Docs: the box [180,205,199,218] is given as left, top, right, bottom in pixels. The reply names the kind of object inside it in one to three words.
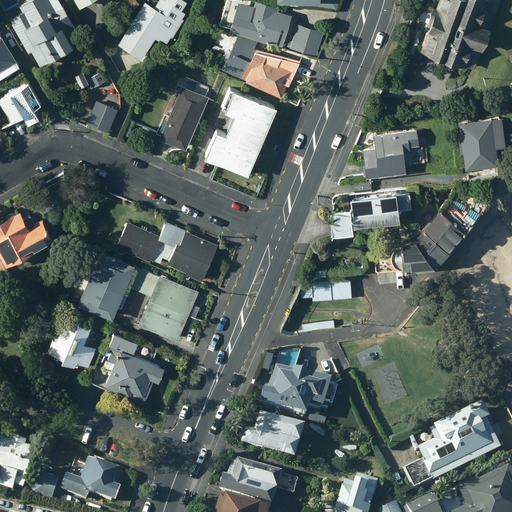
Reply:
vehicle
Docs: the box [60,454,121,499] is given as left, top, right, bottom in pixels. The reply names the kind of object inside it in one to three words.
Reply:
house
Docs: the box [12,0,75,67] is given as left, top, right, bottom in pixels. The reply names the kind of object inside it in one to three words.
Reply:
house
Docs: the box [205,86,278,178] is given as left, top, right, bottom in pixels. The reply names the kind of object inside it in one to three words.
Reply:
building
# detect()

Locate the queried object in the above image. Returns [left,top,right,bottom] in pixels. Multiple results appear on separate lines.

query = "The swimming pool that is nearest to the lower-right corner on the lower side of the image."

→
[276,348,300,366]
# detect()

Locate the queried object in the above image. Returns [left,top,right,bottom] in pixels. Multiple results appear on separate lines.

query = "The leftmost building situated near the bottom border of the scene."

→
[0,431,30,488]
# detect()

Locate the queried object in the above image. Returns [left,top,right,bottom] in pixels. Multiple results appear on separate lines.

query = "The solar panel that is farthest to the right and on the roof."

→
[381,198,397,213]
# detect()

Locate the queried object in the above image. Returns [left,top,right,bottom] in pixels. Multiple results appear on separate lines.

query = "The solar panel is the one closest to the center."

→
[352,201,373,216]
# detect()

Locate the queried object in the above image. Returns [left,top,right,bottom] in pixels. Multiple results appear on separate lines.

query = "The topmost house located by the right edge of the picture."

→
[421,0,500,72]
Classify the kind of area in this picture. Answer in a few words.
residential area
